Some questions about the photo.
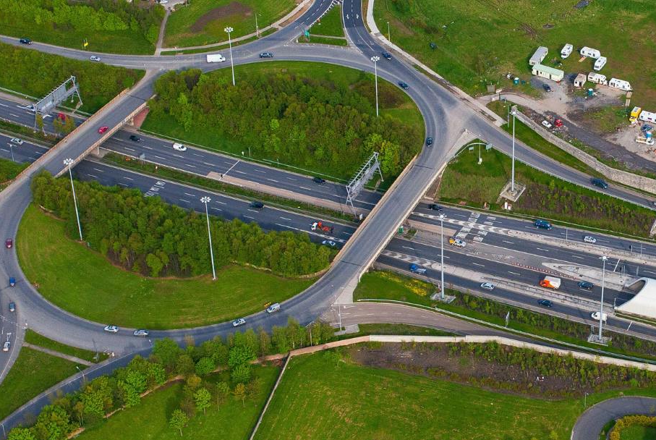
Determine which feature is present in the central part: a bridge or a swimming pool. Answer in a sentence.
The one visible in the central part is a bridge.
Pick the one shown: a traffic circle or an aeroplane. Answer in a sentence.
Of the two, only a traffic circle appears.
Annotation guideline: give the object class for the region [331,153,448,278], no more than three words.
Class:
bridge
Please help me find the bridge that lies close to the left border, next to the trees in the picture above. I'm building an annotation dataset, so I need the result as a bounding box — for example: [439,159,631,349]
[17,87,156,181]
